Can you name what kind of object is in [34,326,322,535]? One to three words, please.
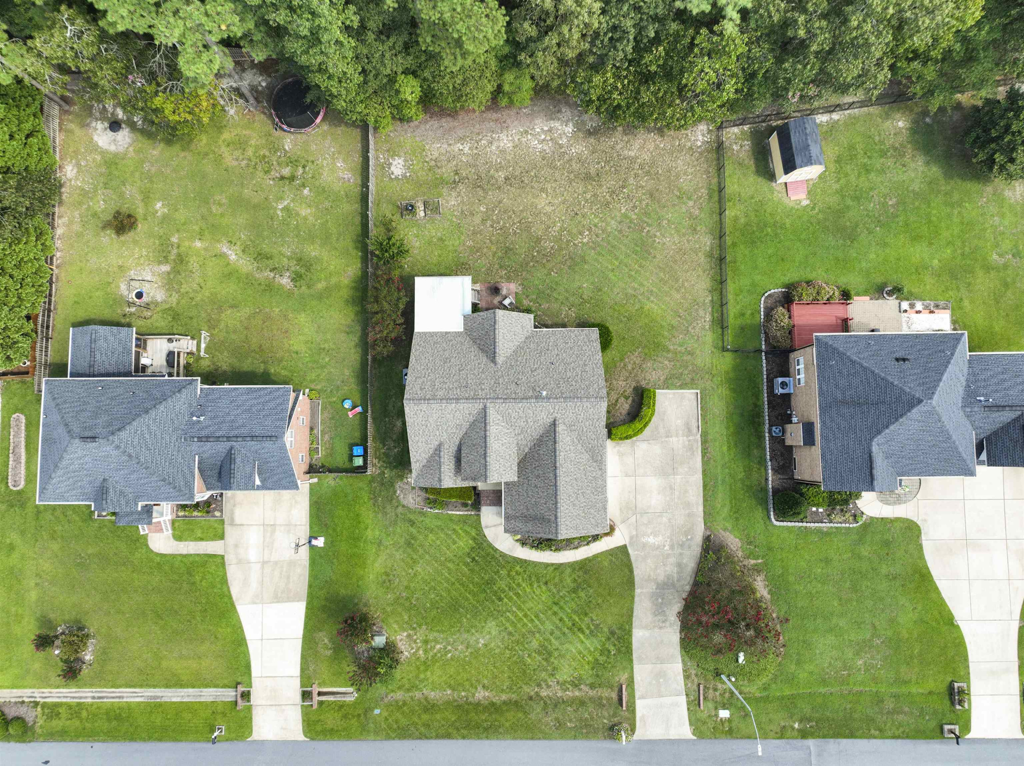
house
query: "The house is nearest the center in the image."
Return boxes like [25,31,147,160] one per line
[404,275,610,539]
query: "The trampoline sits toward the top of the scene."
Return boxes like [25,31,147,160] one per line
[272,80,327,135]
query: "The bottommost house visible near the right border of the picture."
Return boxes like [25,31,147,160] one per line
[784,330,1024,493]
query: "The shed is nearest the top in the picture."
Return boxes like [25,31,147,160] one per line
[768,119,825,200]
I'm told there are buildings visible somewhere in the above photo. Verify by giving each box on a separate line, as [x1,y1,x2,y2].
[768,119,825,200]
[404,275,610,539]
[34,326,322,535]
[784,330,1024,493]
